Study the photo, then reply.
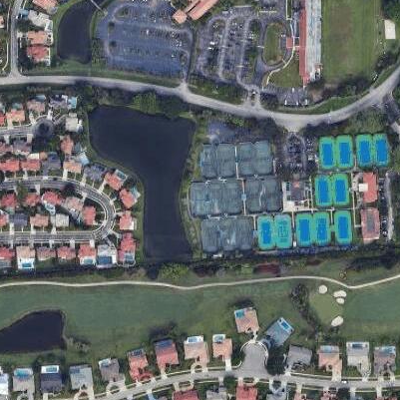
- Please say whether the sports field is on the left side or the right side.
right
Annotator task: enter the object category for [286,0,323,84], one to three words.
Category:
building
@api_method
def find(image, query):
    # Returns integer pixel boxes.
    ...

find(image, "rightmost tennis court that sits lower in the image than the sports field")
[374,134,391,169]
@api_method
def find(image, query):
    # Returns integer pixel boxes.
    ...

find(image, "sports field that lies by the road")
[323,0,380,82]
